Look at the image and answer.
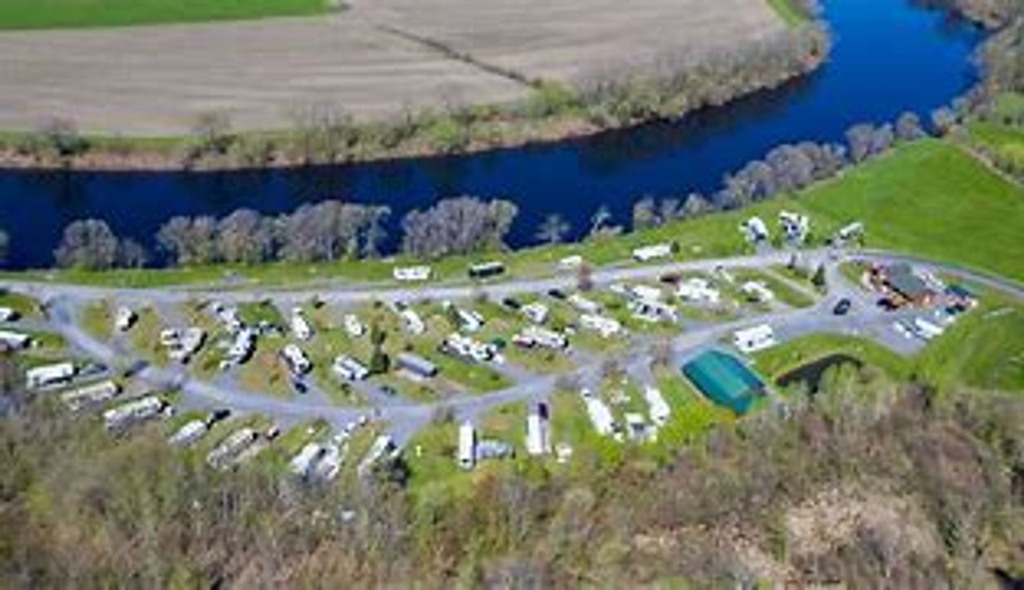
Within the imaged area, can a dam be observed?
No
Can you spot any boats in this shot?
No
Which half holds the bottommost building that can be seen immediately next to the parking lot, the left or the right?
right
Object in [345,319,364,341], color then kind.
white camper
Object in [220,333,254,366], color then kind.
white vehicle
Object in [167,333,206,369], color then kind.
white vehicle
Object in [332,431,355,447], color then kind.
white car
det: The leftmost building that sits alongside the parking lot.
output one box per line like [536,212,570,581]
[679,349,772,412]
